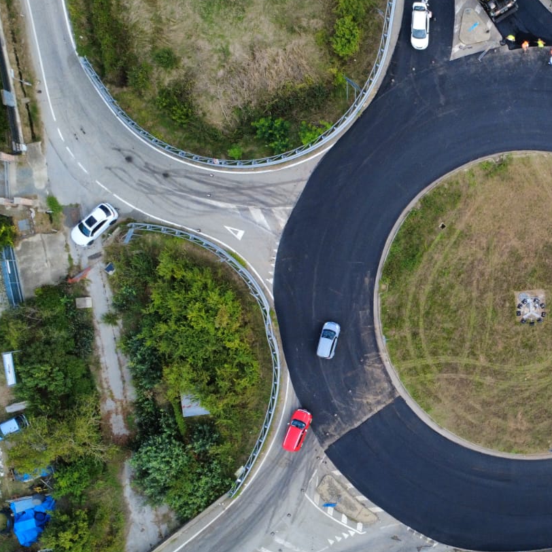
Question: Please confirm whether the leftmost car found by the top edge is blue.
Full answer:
No, the leftmost car found by the top edge is actually white.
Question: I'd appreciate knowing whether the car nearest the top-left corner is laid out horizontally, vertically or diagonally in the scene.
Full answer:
The car nearest the top-left corner has been laid out diagonally relative to the frame.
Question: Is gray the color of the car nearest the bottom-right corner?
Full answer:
No, the car nearest the bottom-right corner is red.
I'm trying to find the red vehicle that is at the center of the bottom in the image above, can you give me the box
[282,409,312,453]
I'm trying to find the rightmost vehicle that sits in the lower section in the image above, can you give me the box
[316,322,341,360]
